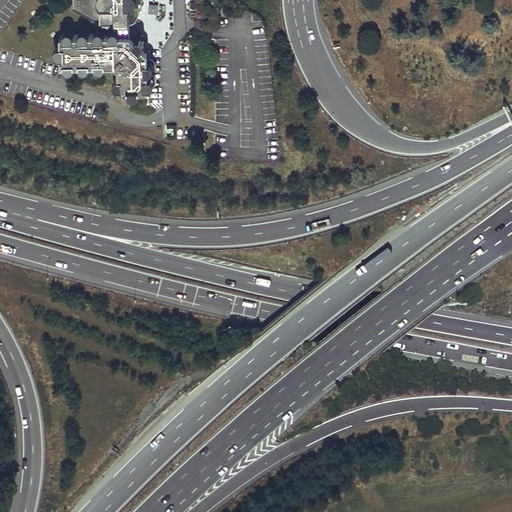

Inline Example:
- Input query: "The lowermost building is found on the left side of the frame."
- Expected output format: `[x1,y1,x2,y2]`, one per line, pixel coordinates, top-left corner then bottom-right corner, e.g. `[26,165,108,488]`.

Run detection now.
[51,36,153,106]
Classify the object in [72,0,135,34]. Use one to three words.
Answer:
building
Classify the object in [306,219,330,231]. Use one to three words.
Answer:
vehicle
